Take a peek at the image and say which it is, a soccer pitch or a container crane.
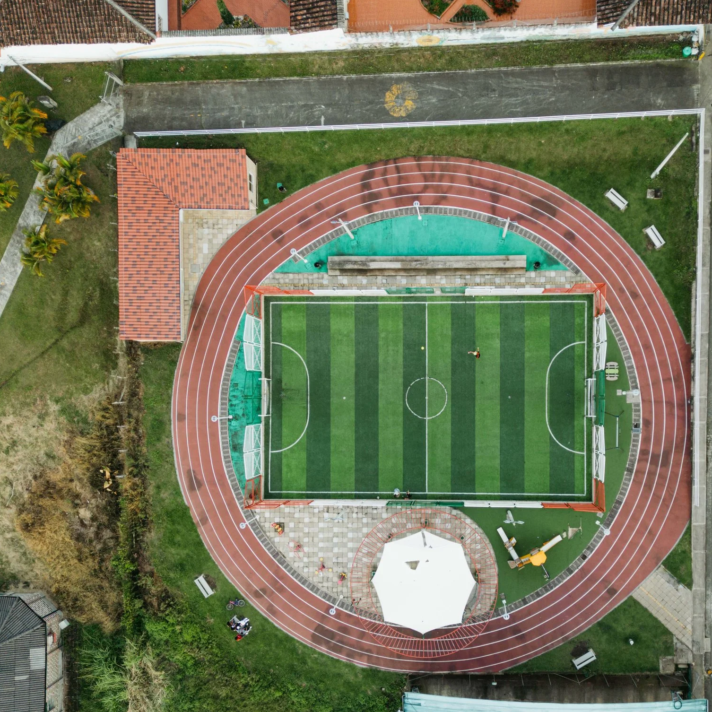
soccer pitch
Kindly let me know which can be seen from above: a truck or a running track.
running track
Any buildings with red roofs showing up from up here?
Yes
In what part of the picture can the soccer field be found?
center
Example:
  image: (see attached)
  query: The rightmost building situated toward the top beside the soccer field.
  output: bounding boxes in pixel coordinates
[117,148,256,343]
